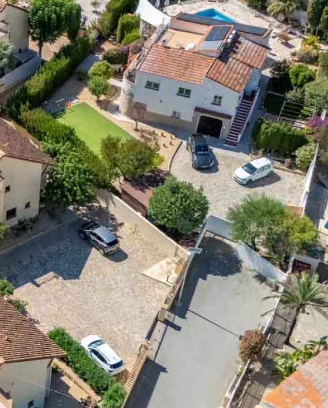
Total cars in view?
four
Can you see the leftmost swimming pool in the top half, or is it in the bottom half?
top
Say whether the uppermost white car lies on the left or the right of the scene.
right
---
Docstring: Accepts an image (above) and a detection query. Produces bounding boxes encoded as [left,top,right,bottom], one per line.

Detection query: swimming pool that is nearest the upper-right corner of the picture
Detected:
[190,5,252,39]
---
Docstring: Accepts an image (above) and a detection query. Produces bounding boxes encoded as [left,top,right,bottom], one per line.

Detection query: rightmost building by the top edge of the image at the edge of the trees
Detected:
[131,12,269,136]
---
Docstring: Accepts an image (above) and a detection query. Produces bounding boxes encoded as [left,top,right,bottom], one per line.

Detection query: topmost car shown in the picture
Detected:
[187,134,216,170]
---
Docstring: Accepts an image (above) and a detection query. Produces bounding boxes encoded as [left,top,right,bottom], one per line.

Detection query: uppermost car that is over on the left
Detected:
[75,220,125,256]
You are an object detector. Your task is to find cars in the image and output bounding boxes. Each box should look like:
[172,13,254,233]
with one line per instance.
[75,220,125,256]
[187,134,216,170]
[74,331,131,380]
[232,156,278,185]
